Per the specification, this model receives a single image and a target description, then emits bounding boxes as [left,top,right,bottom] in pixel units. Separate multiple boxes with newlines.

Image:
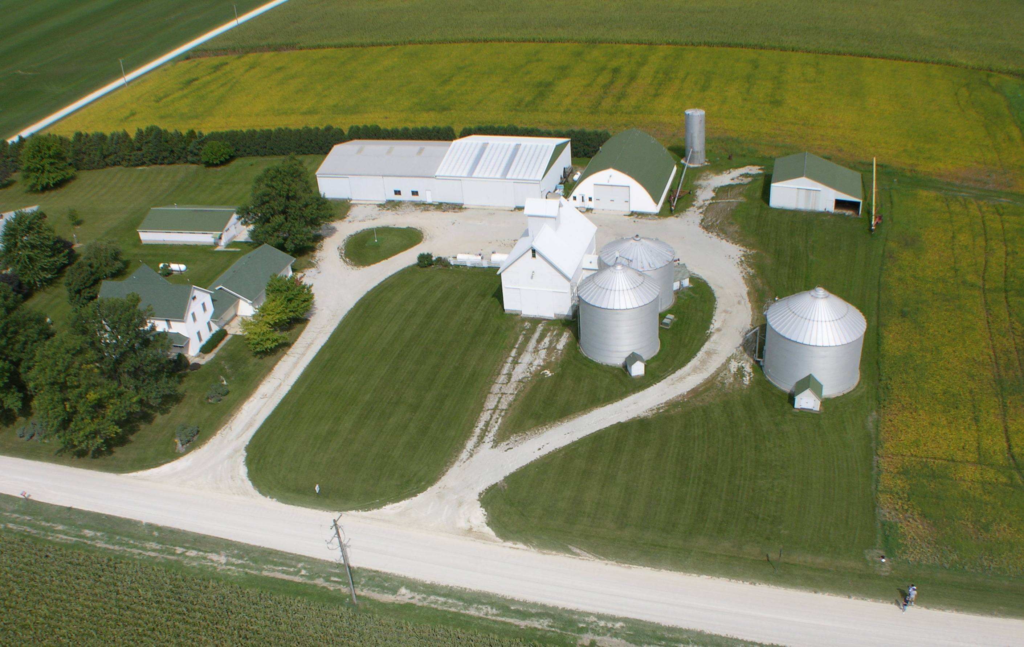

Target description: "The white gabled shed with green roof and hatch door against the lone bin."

[793,377,823,412]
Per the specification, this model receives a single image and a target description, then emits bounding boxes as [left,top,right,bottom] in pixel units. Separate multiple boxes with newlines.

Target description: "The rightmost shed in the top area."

[768,150,869,215]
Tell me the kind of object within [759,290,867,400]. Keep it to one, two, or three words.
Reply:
silo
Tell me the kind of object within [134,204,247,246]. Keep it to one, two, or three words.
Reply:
shed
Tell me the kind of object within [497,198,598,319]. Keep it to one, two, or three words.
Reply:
barn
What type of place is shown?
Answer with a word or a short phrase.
industrial area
